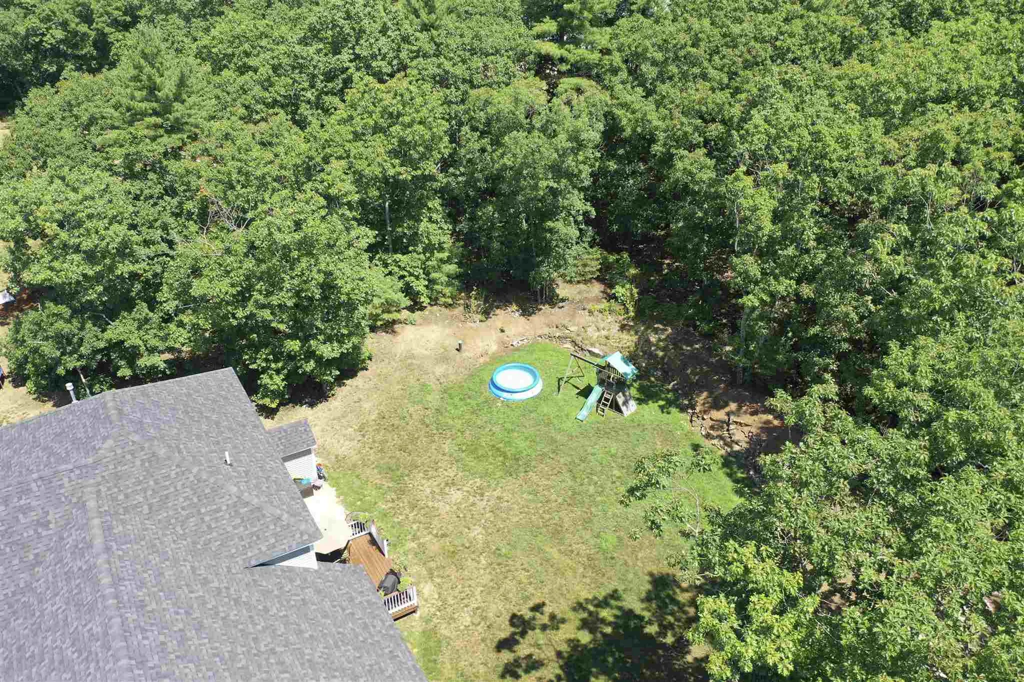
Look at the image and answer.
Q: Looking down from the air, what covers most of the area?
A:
trees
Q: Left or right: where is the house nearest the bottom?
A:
left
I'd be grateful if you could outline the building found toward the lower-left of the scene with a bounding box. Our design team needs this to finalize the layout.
[0,367,429,682]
